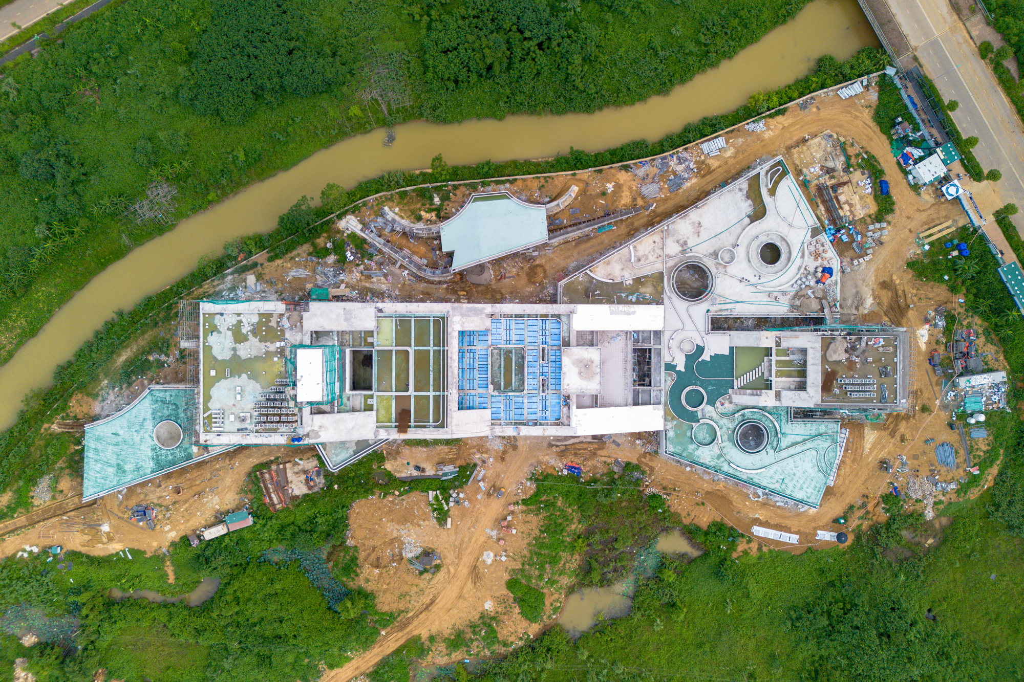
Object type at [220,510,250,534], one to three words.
building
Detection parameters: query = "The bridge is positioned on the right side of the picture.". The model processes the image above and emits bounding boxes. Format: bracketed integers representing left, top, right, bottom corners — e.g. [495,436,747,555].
[856,0,922,71]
